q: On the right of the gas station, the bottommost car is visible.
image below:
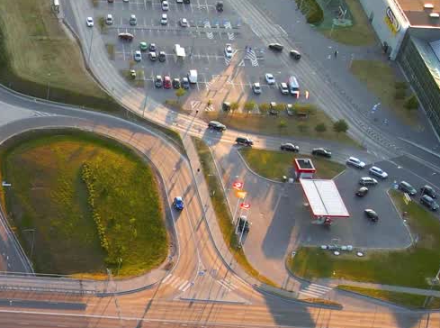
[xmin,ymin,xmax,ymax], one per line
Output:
[360,209,383,223]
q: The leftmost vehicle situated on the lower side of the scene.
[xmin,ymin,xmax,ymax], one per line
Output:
[170,195,185,210]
